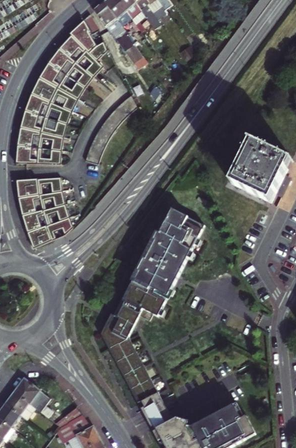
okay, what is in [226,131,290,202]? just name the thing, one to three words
building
